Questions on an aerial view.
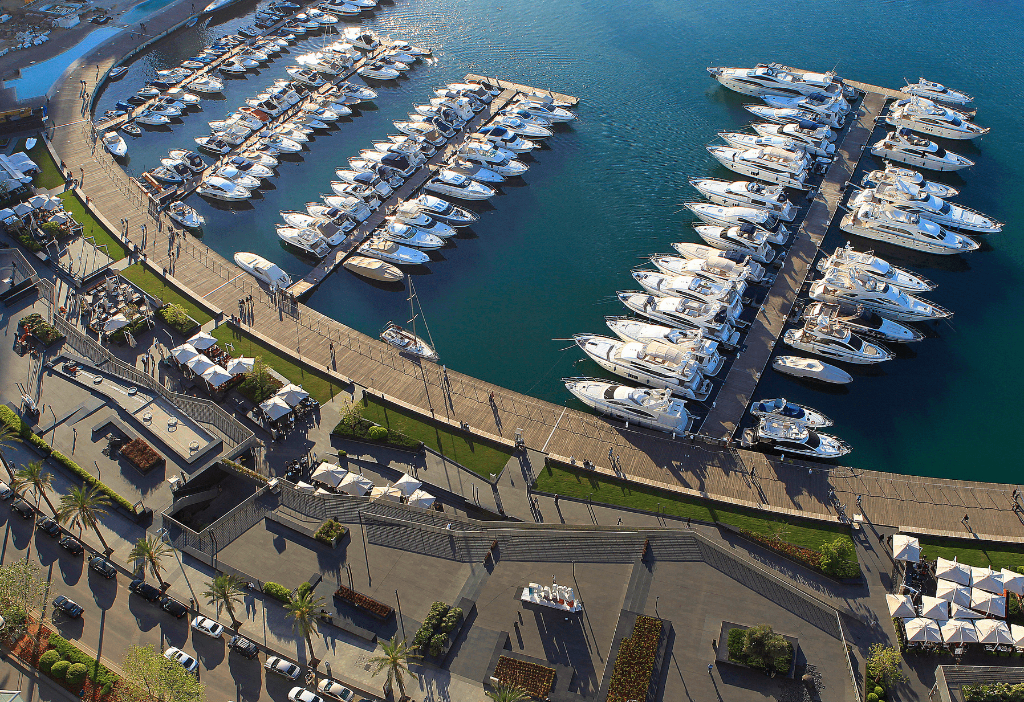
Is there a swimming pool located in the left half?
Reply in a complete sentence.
Yes, in the left half there is a swimming pool.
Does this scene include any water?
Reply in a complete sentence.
Yes, water can be seen from above here.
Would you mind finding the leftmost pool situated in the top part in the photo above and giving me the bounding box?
[4,26,122,99]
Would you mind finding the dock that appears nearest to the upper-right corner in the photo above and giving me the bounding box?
[699,58,990,441]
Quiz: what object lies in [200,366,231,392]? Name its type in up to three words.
umbrella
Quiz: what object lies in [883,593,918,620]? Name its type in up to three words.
umbrella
